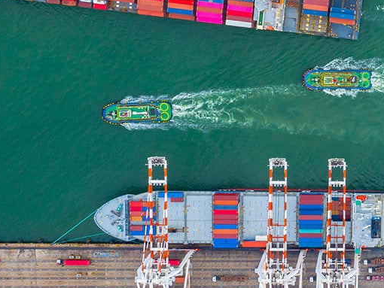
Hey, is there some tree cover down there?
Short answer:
No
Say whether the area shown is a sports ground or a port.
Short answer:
port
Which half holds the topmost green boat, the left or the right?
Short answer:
right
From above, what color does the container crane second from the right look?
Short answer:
white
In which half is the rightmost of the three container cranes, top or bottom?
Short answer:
bottom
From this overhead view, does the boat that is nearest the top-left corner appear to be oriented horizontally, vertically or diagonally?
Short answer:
horizontally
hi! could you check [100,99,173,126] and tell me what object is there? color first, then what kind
green boat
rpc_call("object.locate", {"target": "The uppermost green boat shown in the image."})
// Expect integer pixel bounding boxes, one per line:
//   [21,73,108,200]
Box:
[302,67,372,93]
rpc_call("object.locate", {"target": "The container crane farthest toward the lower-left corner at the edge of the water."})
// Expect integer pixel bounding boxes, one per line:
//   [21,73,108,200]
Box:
[135,159,203,288]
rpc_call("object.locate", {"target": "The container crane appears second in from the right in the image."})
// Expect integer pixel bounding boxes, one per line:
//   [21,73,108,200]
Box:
[258,159,313,288]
